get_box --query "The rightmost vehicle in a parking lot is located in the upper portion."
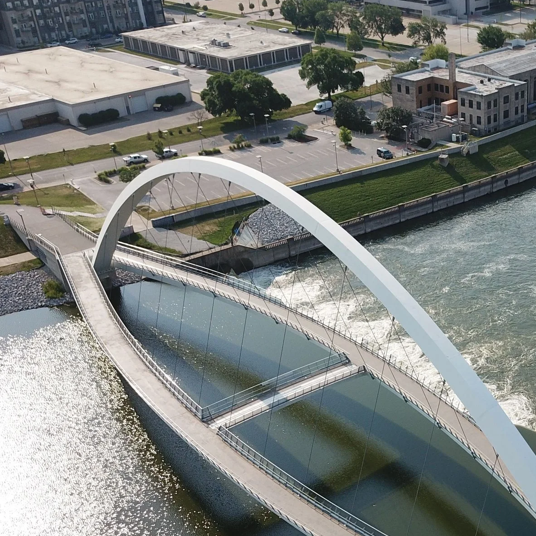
[377,146,392,158]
